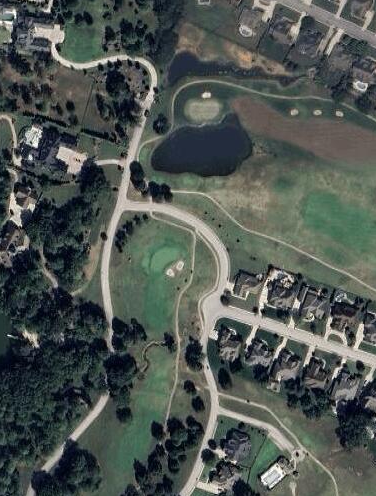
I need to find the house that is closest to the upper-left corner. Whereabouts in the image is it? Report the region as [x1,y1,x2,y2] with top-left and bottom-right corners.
[14,17,53,50]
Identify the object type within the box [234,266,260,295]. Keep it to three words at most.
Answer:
house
